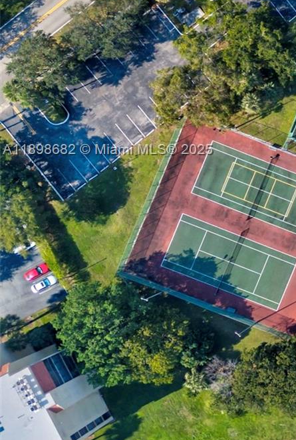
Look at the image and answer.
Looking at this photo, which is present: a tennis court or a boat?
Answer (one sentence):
There is a tennis court in the scene.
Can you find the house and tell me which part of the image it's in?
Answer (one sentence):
You can find the house in the bottom left area of the picture.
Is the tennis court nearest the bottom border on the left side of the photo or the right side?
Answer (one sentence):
The tennis court nearest the bottom border appears in the right half of the scene.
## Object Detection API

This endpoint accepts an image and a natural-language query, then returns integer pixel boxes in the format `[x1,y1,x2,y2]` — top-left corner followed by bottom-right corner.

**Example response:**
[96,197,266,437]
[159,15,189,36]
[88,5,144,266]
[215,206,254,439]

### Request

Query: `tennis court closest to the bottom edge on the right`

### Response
[125,193,296,329]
